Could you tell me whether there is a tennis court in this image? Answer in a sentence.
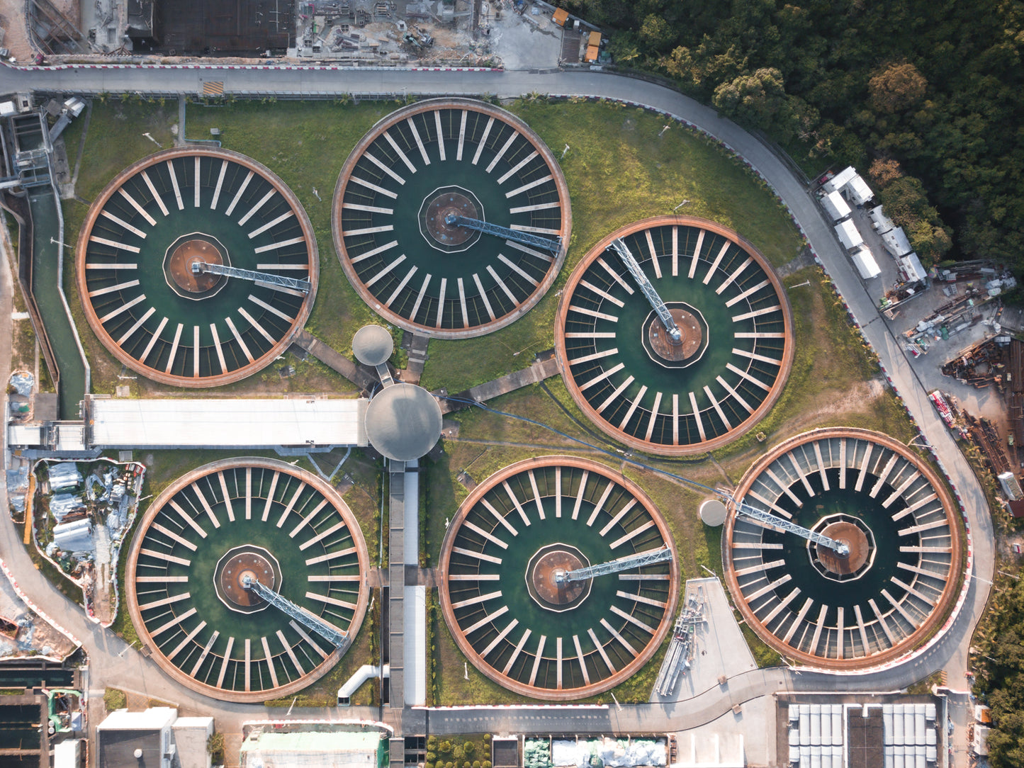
No, there is no tennis court in the image.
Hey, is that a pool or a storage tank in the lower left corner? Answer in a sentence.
Looking in the lower left corner, you will find a storage tank.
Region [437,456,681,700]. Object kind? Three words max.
storage tank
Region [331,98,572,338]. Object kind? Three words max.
storage tank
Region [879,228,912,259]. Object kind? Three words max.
building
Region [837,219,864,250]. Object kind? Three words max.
building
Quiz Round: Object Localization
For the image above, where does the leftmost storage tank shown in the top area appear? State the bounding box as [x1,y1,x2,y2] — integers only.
[75,146,318,388]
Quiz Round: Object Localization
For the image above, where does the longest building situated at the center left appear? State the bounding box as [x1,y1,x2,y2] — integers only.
[86,395,372,448]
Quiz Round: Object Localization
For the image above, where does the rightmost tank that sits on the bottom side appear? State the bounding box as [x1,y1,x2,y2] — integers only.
[721,426,967,671]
